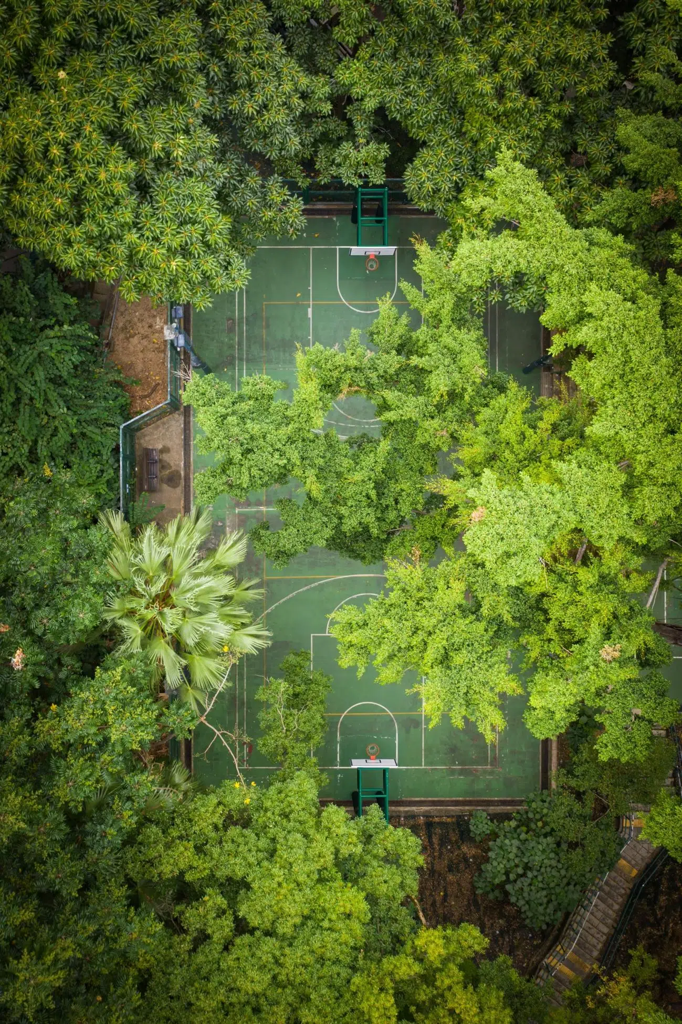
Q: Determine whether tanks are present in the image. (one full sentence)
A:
No, the frame has no tank in it.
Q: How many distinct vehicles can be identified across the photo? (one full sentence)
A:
I count no vehicles.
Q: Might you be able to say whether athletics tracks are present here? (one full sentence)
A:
No, the scene contains no athletics track.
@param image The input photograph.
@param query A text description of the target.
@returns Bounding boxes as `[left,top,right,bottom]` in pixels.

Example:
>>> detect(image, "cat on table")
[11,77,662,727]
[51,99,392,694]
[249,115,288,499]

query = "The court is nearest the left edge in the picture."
[192,216,542,800]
